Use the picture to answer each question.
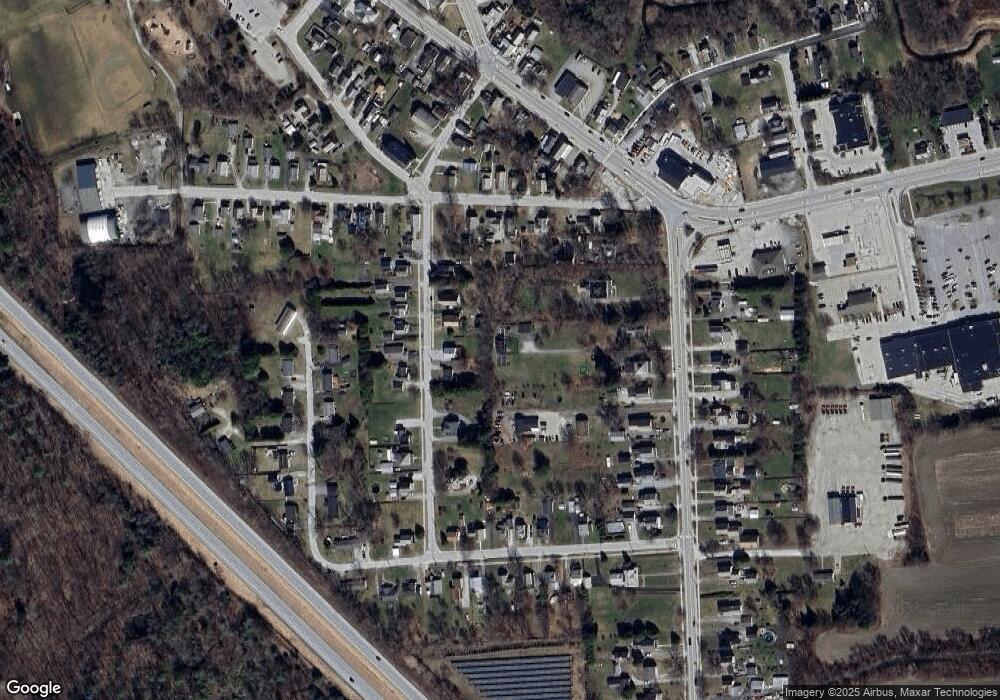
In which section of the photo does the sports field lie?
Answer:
top left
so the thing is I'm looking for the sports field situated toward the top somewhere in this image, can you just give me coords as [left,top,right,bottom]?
[2,0,170,152]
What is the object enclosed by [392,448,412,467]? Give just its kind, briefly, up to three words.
house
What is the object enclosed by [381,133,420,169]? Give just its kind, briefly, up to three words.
building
